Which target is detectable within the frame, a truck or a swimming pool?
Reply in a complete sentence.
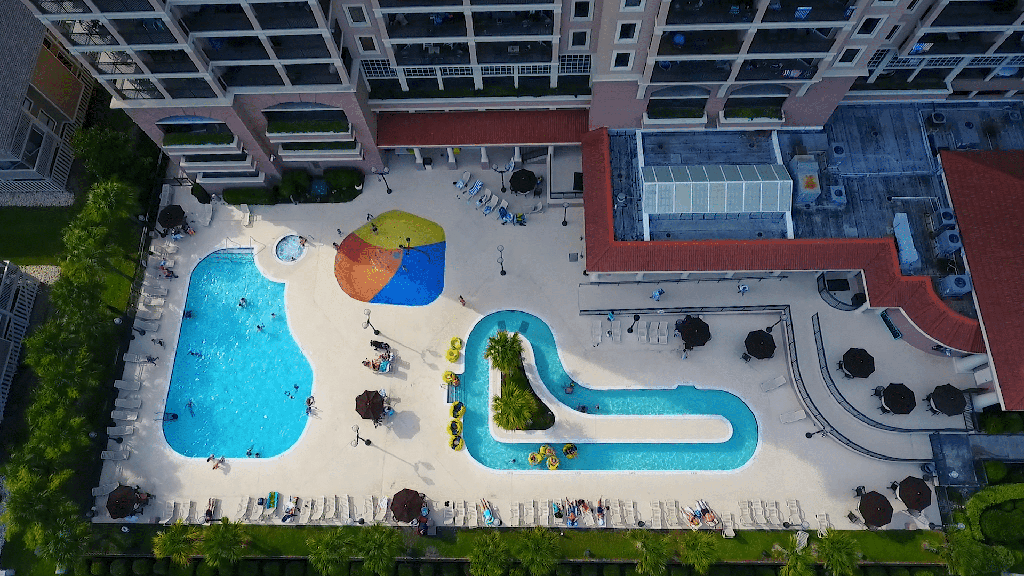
There is a swimming pool in the scene.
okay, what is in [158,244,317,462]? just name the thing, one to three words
swimming pool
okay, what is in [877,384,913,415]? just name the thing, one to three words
umbrella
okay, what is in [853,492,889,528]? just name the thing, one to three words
umbrella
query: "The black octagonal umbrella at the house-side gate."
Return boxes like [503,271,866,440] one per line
[160,205,191,230]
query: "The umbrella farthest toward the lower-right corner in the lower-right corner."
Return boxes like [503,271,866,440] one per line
[891,476,929,512]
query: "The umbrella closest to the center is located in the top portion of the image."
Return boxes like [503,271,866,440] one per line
[510,172,537,199]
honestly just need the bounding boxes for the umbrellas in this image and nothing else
[160,205,191,230]
[358,389,388,420]
[836,348,871,380]
[924,384,963,416]
[877,384,913,415]
[392,488,424,522]
[510,172,537,199]
[853,492,889,528]
[112,484,148,519]
[891,476,929,512]
[743,331,775,362]
[678,319,710,349]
